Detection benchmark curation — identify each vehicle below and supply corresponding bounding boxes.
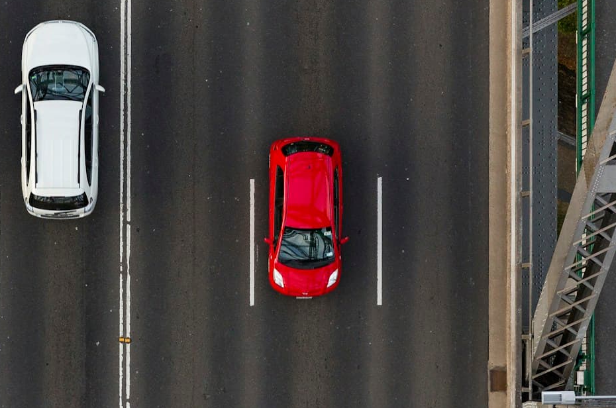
[13,21,105,218]
[262,137,348,297]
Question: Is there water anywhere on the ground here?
No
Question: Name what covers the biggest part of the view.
paved ground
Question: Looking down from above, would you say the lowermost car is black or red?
red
